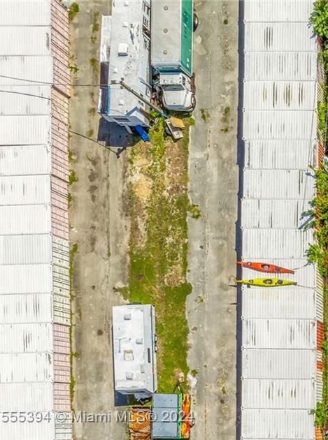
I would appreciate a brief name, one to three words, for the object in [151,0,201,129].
truck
